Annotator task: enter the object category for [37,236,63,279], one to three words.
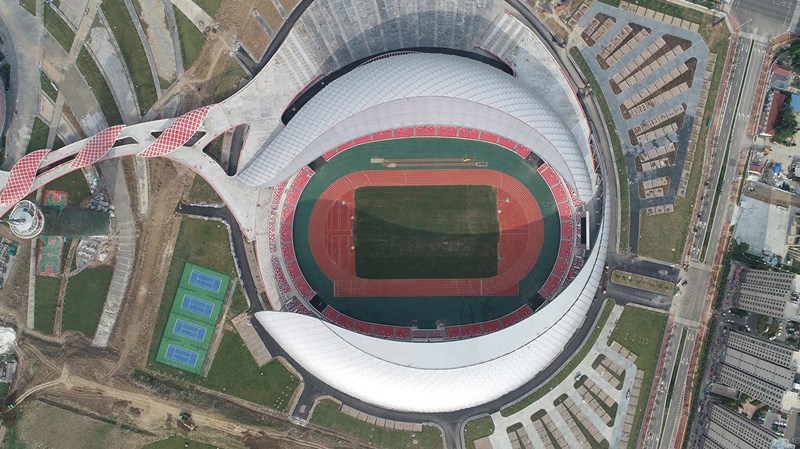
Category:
basketball court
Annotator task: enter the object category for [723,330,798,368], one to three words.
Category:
building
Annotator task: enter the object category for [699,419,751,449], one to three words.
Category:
building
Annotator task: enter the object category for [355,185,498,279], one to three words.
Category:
sports field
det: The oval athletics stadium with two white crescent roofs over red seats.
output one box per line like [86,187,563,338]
[199,0,612,415]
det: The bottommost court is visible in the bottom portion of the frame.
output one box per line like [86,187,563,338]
[156,337,208,376]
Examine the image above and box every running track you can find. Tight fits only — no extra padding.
[294,137,559,326]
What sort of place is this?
sports ground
